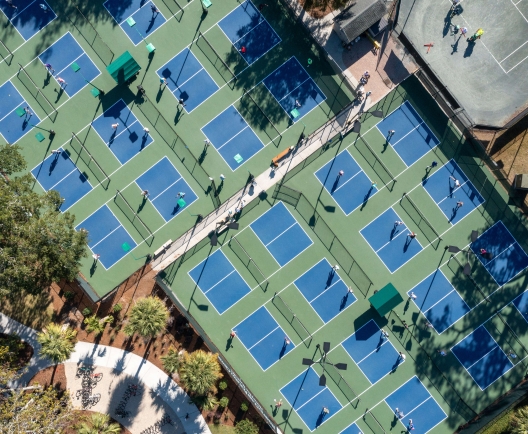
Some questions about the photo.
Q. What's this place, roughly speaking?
sports ground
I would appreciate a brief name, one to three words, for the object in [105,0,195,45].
sports court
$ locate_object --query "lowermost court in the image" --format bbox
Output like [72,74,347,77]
[342,376,449,434]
